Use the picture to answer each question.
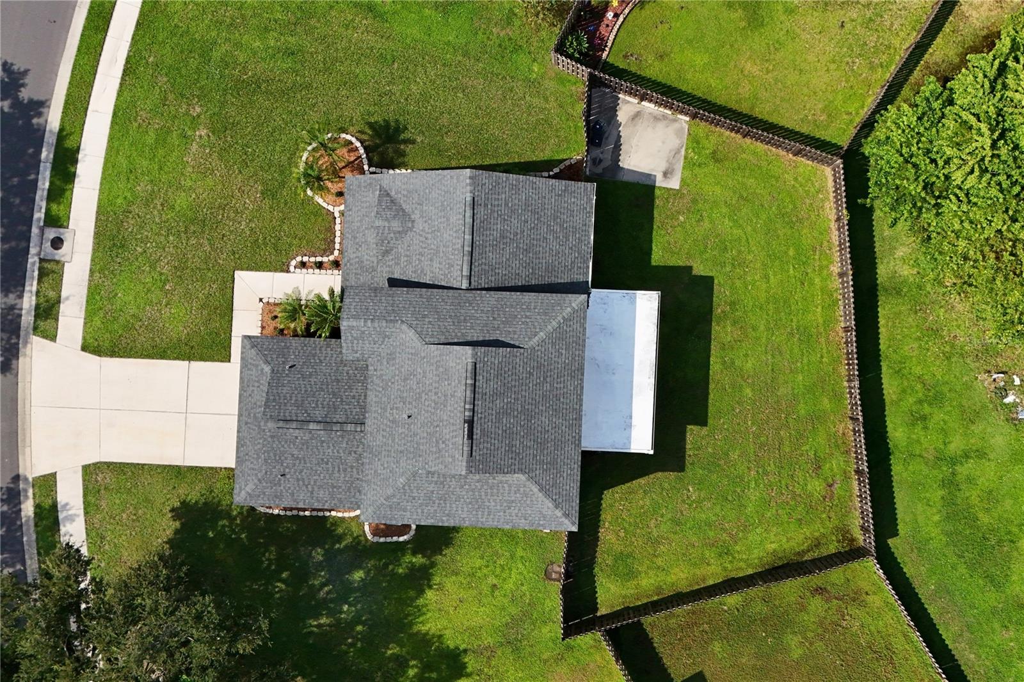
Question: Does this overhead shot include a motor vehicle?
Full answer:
No, no motor vehicle is visible in the view.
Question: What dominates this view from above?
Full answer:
What you mostly see from above here is grass.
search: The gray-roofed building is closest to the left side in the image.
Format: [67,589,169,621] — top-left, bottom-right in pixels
[233,168,597,532]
